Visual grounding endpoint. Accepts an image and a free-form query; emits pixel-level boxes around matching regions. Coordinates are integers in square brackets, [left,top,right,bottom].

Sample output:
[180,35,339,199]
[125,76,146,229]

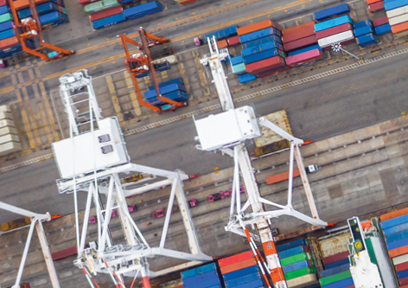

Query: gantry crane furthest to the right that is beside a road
[192,33,342,288]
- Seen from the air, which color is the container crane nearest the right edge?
white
